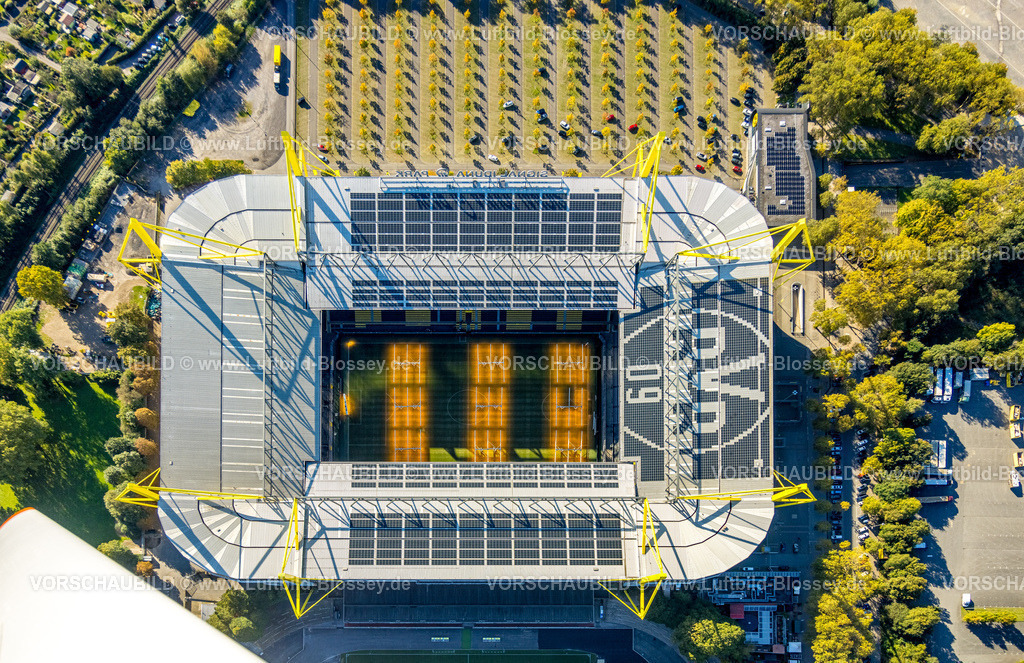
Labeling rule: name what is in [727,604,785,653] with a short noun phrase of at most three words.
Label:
building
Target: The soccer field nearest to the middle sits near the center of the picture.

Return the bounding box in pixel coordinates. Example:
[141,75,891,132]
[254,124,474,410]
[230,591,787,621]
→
[343,338,593,462]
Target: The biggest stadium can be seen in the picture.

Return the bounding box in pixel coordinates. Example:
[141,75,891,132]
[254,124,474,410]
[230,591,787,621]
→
[115,130,818,618]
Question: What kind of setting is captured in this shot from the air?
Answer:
sports ground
